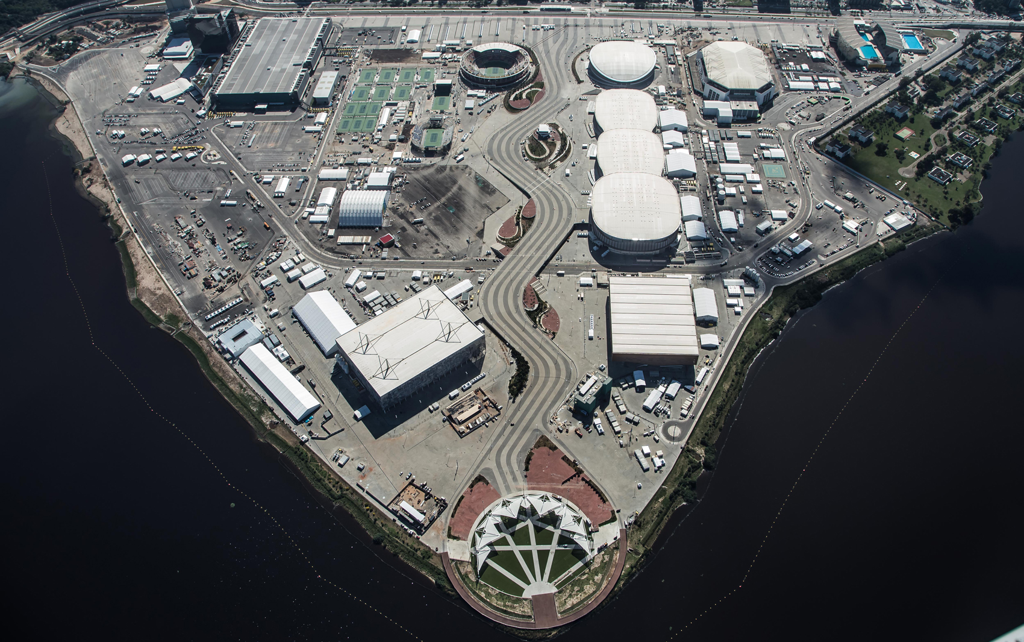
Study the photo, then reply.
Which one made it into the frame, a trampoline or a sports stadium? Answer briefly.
sports stadium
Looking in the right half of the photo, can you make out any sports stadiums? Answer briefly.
Yes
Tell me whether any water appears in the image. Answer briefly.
Yes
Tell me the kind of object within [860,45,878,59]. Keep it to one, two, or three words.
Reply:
swimming pool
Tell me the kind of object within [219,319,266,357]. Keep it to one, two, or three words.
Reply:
building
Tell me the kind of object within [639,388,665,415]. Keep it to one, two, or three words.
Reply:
tent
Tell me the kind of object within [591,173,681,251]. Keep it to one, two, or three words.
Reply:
stadium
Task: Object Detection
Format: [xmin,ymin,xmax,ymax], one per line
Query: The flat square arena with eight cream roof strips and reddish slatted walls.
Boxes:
[596,273,698,365]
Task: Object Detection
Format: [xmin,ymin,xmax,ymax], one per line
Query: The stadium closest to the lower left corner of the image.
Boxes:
[336,283,485,410]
